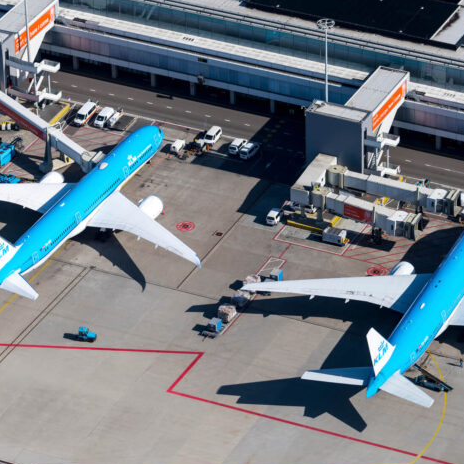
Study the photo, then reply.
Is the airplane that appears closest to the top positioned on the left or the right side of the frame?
left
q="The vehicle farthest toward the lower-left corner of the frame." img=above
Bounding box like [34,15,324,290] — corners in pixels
[76,327,98,346]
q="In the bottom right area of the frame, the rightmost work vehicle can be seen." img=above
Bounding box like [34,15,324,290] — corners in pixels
[413,366,456,394]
